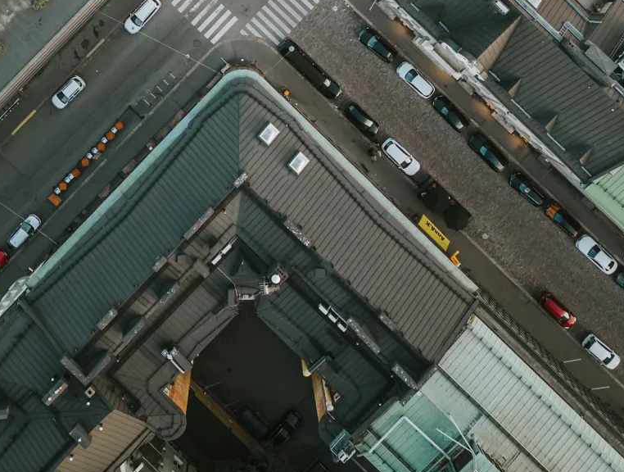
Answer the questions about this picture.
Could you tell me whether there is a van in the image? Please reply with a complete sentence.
Yes, there is a van in the image.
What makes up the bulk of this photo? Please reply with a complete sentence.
The largest share of the image is taken up by buildings.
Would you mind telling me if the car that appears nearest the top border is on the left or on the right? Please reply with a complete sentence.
The car that appears nearest the top border sits on the left side.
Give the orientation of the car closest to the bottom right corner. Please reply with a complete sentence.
The car closest to the bottom right corner runs at an angle in the image.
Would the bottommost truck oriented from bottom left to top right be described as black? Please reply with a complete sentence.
Yes, the bottommost truck oriented from bottom left to top right appears black.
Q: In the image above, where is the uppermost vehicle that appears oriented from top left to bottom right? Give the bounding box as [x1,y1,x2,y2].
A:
[354,22,401,68]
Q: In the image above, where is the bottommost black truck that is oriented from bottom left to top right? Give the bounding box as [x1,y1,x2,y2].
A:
[265,403,308,450]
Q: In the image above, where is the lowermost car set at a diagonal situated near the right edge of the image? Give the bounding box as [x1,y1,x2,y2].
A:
[576,326,623,372]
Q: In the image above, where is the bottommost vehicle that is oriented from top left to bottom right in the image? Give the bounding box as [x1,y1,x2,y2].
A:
[231,398,273,443]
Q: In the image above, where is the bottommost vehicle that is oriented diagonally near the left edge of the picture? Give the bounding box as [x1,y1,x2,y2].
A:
[1,209,46,254]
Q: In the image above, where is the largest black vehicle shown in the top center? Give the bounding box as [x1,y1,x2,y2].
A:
[274,36,344,102]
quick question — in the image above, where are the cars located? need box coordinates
[574,232,619,275]
[376,133,423,178]
[120,0,166,36]
[463,129,511,174]
[342,100,381,138]
[274,36,344,102]
[427,92,470,134]
[48,69,89,112]
[536,289,578,331]
[576,326,623,372]
[354,22,401,68]
[1,209,46,254]
[541,199,584,240]
[505,167,549,209]
[392,58,438,102]
[611,265,624,289]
